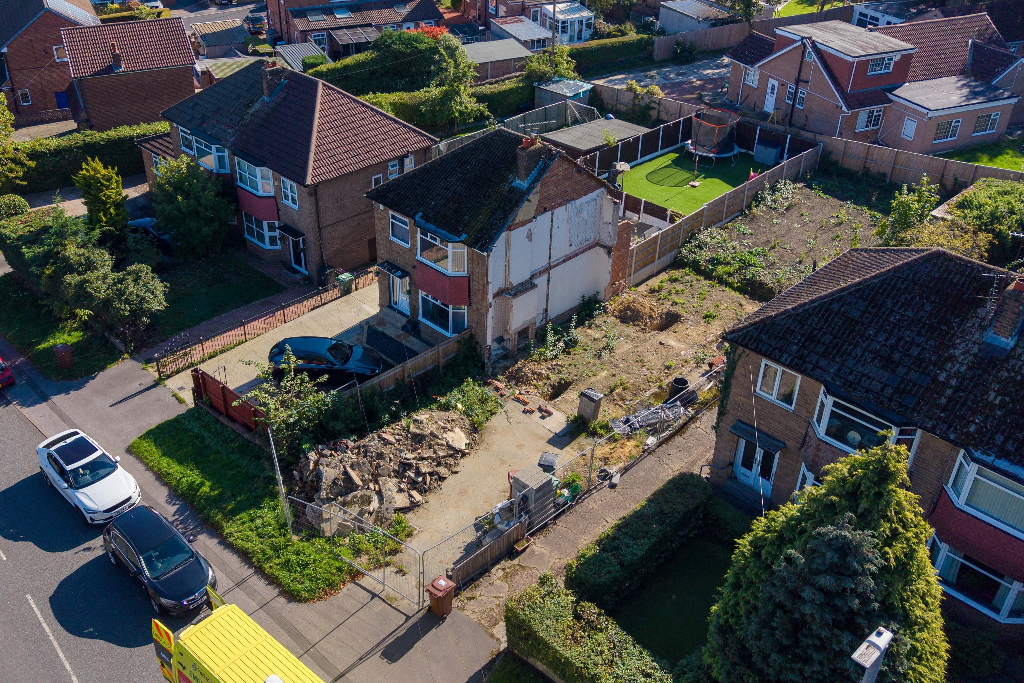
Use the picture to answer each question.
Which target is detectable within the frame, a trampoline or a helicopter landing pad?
trampoline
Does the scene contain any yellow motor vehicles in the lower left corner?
Yes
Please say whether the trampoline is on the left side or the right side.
right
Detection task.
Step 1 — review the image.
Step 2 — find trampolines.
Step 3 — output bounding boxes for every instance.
[686,107,742,172]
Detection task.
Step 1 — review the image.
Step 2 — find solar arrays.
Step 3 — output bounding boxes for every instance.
[49,0,94,24]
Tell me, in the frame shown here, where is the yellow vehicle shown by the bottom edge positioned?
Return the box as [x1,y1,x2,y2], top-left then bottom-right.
[149,587,311,683]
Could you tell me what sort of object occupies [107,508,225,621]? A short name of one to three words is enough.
car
